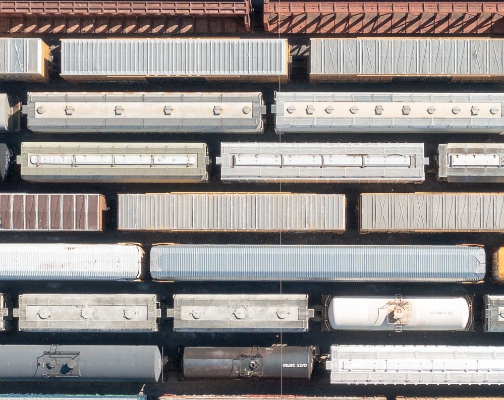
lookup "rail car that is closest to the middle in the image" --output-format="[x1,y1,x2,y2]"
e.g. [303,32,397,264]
[115,192,354,235]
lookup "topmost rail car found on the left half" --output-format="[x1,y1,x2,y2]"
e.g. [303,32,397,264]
[0,0,259,35]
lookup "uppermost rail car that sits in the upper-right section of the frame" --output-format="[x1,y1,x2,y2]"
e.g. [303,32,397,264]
[259,0,504,34]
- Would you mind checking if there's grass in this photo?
No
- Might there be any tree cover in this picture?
No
